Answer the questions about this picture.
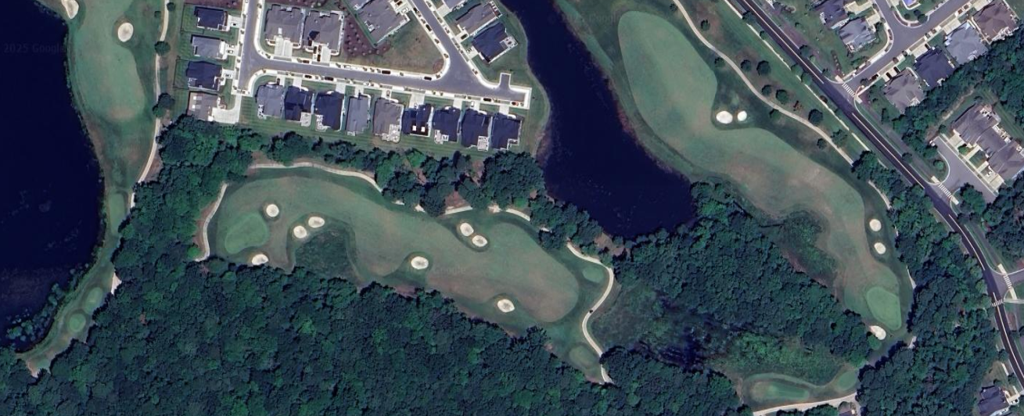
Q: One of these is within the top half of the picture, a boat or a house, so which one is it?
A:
house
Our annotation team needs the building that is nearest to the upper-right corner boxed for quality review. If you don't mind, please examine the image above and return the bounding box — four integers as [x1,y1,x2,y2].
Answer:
[972,0,1010,41]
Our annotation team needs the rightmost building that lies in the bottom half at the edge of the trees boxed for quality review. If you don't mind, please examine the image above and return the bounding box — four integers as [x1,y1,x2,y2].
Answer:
[979,388,1007,416]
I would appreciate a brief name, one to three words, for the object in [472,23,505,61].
house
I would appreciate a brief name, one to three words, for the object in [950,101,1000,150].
house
